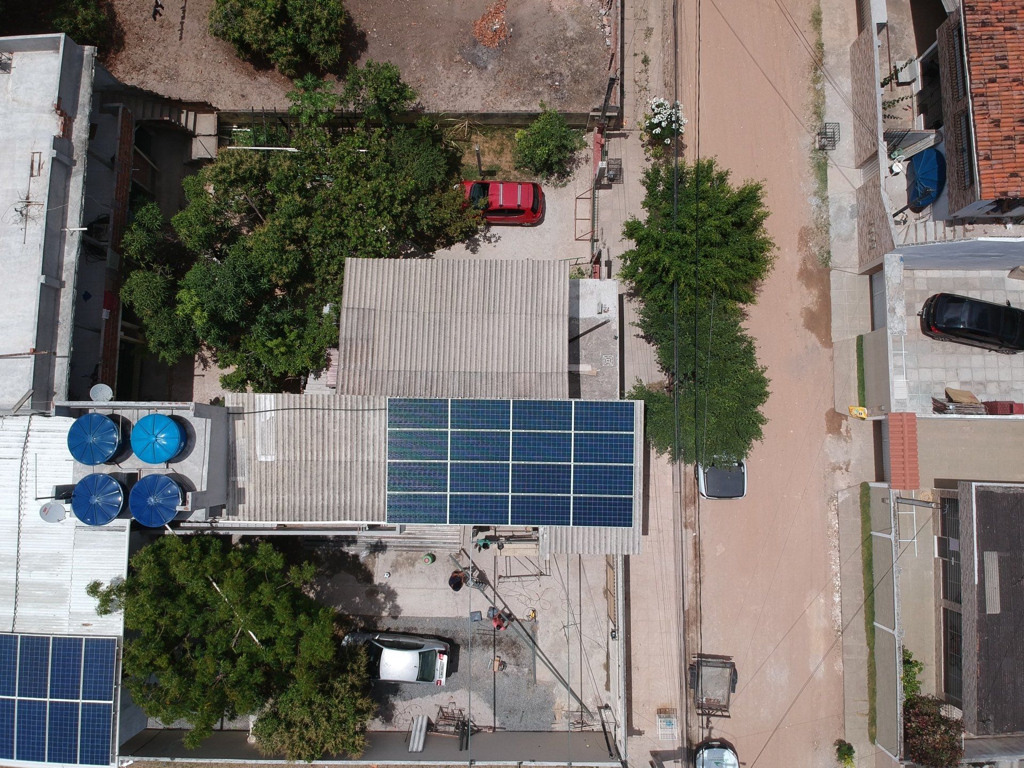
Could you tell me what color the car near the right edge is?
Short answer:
black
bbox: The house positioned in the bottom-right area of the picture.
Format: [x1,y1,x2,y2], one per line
[918,479,1024,732]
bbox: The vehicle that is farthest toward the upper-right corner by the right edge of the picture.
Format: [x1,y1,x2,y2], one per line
[918,293,1024,361]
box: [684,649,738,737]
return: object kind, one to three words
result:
trailer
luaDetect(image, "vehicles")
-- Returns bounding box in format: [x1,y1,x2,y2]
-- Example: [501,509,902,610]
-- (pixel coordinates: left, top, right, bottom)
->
[918,293,1024,361]
[337,622,456,683]
[445,176,549,230]
[692,451,743,496]
[691,738,744,768]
